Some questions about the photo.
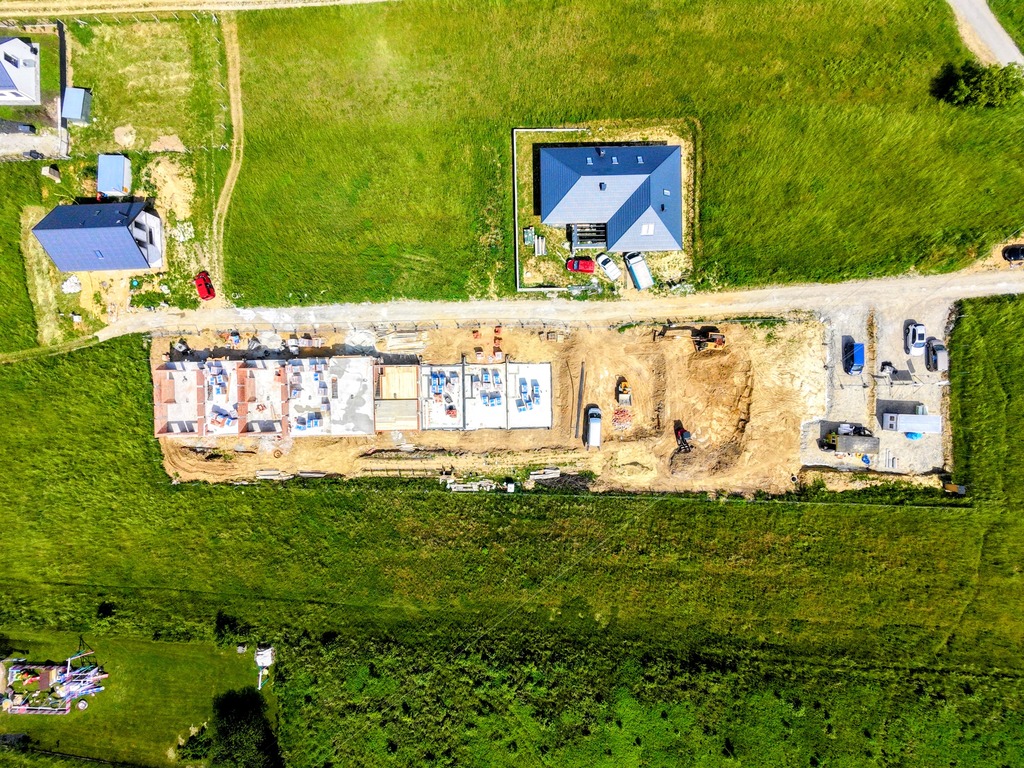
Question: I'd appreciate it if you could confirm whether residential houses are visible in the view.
Yes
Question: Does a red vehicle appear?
Yes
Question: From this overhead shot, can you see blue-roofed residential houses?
Yes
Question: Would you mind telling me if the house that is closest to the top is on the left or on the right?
left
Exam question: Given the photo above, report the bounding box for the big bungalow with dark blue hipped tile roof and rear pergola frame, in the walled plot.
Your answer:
[540,145,683,253]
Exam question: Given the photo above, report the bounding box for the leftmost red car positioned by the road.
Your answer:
[197,271,218,301]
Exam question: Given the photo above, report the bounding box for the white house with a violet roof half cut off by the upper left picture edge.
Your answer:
[0,38,38,104]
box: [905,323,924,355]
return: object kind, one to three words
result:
car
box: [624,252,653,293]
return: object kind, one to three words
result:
van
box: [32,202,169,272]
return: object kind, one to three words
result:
house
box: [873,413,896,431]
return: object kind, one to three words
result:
building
